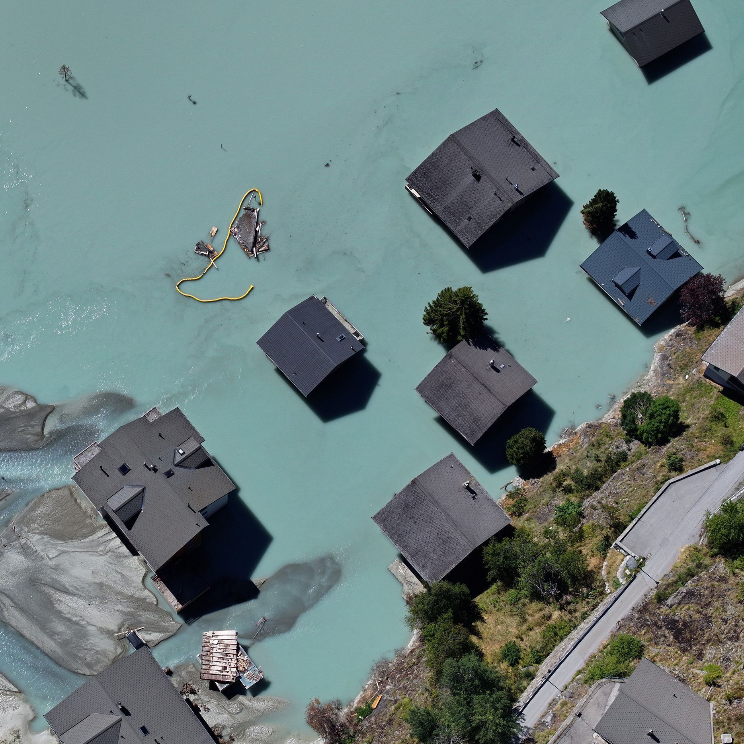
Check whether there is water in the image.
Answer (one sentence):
Yes, the picture does contain water.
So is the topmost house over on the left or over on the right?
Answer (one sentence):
It is on the right.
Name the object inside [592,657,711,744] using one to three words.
house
